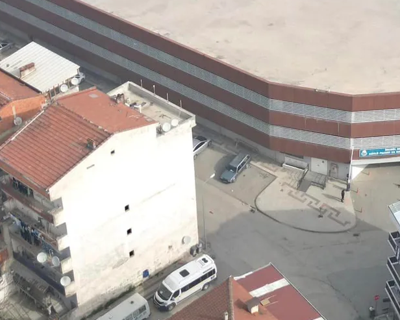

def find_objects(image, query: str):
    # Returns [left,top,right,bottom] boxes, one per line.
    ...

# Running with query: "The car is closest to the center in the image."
[194,138,213,153]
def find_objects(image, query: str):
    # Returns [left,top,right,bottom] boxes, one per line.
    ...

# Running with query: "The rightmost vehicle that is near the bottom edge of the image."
[153,255,211,311]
